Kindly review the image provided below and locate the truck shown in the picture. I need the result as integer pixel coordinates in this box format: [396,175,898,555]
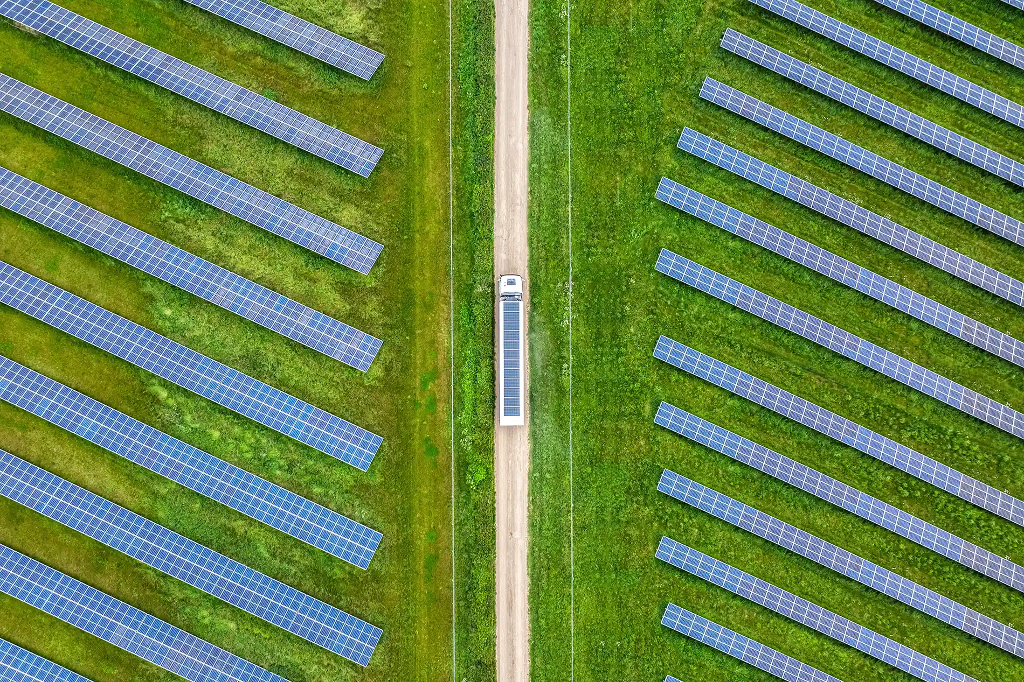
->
[497,273,525,427]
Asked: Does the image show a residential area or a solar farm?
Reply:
solar farm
